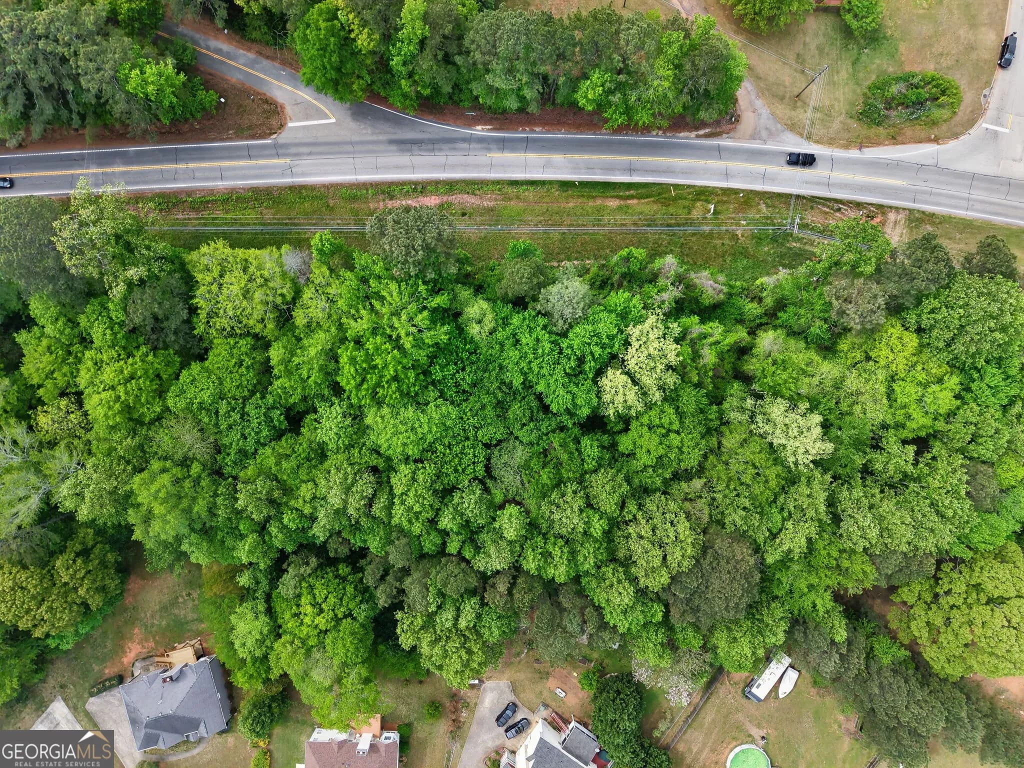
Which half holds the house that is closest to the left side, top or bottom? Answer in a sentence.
The house that is closest to the left side is in the bottom half of the image.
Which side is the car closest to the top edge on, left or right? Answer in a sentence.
The car closest to the top edge sits on the right side.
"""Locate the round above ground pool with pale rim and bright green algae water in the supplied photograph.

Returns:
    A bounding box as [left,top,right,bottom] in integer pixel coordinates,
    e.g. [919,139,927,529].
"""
[727,744,771,768]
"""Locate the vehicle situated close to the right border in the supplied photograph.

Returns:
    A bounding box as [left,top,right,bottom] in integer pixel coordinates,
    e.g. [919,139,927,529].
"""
[996,32,1019,66]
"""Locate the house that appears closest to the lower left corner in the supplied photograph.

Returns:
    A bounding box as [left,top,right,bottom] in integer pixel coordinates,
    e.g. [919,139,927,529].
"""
[119,656,231,751]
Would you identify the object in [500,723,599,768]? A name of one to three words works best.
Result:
house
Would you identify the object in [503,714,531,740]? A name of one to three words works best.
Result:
car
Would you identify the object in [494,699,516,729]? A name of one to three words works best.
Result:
car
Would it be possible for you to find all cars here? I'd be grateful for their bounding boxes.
[494,699,516,729]
[0,174,13,188]
[996,32,1019,66]
[786,150,817,167]
[503,714,531,740]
